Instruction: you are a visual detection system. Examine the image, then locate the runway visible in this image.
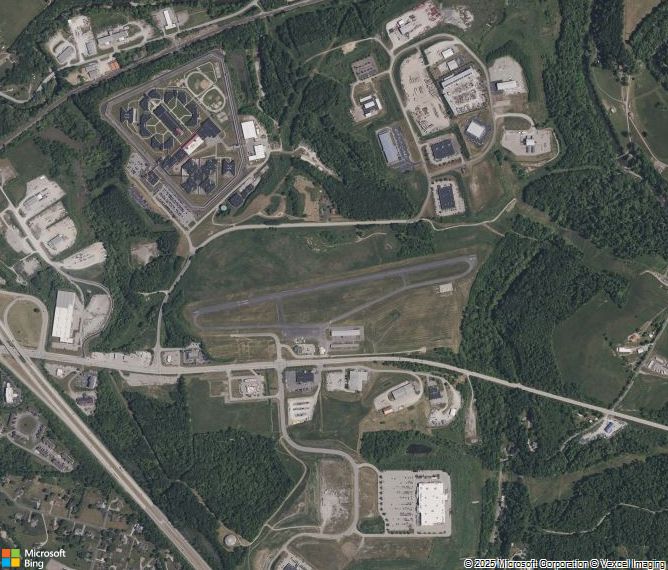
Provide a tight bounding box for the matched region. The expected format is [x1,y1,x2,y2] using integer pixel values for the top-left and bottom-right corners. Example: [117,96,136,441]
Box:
[195,254,477,315]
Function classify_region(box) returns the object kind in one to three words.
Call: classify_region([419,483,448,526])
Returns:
building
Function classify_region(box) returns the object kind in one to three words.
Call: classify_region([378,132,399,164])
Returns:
building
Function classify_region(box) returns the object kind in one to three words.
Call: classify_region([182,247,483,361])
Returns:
airport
